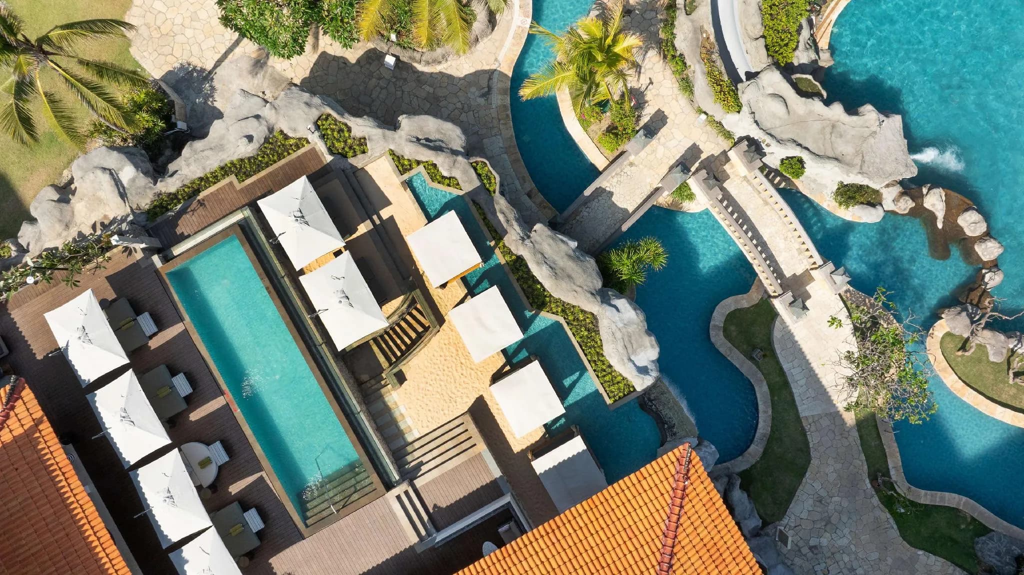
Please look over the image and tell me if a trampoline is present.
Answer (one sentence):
No, there is no trampoline in the image.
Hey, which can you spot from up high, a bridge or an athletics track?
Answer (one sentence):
The image shows a bridge.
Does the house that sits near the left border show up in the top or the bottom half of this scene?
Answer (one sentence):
Seen from above, the house that sits near the left border lies in the bottom half of the view.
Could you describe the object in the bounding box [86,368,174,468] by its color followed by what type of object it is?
white umbrella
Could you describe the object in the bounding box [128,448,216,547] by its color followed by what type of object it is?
white umbrella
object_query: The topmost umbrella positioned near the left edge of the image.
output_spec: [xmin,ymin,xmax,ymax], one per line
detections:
[44,288,132,388]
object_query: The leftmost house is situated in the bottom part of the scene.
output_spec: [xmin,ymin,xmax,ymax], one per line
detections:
[0,371,136,575]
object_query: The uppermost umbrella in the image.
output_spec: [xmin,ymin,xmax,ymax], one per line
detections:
[261,176,344,271]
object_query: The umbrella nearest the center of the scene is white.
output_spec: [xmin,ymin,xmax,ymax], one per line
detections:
[303,253,386,348]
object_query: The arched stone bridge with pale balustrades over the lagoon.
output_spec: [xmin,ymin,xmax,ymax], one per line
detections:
[700,168,825,302]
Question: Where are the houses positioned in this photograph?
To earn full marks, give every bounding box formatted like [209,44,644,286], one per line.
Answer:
[0,371,136,575]
[446,439,763,575]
